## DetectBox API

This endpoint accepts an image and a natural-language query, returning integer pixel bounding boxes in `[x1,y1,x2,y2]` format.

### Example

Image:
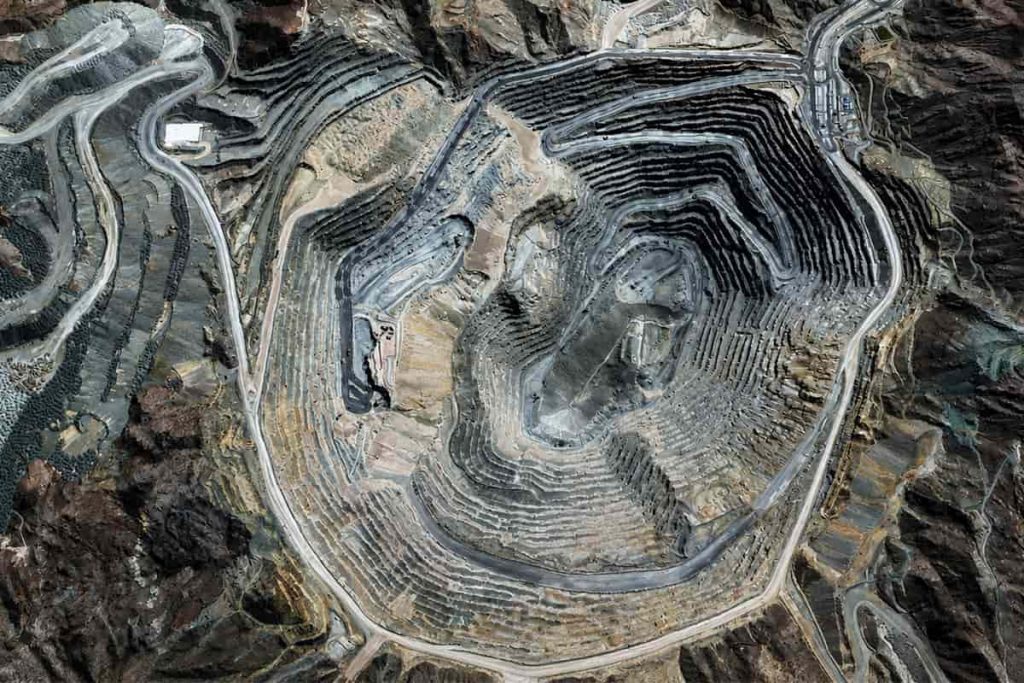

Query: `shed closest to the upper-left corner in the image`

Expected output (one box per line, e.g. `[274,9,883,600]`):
[165,123,200,150]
